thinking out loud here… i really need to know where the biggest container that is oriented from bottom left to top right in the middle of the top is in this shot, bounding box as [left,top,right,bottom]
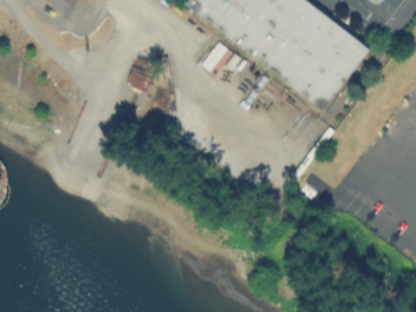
[202,42,230,73]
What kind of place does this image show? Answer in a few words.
port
